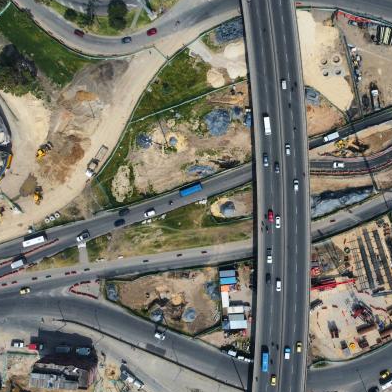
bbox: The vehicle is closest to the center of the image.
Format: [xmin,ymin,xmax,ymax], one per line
[178,182,202,196]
